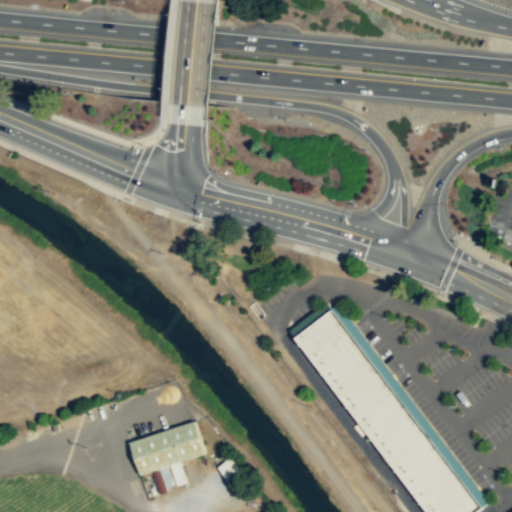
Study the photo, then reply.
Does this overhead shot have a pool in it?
No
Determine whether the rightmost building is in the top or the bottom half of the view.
bottom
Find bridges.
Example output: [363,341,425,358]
[160,0,217,107]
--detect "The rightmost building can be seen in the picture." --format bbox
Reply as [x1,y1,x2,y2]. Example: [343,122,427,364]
[289,304,486,512]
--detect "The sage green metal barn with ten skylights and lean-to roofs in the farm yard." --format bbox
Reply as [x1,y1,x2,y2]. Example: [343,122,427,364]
[130,422,206,490]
